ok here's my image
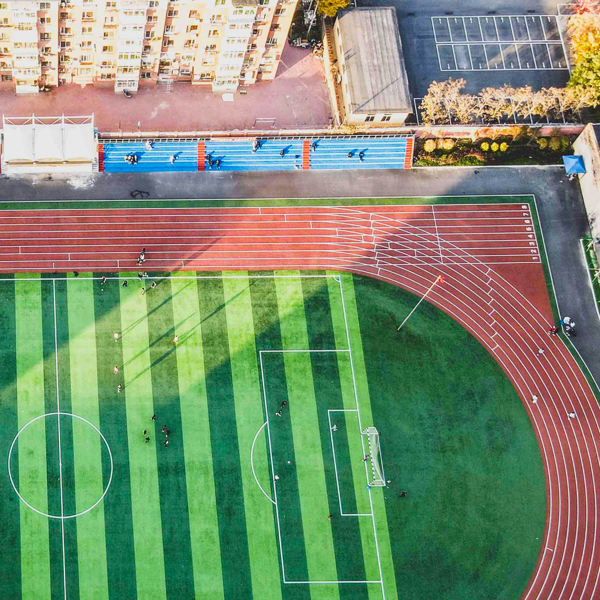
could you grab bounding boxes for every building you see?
[0,0,300,97]
[332,7,412,124]
[574,122,600,237]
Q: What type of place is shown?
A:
sports ground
